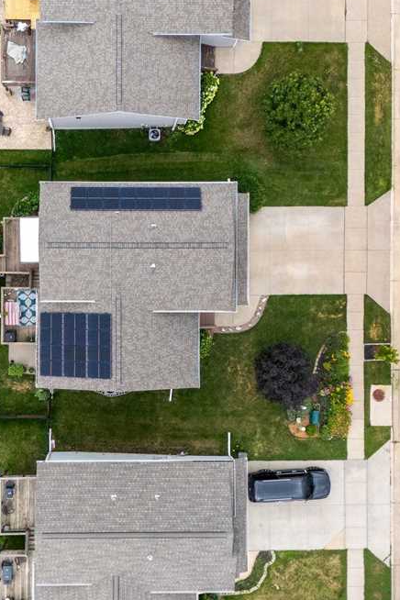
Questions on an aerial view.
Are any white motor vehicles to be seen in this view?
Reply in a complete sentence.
No, I can see no white motor vehicle in this picture.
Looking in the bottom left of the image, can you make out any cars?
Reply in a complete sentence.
No, in the bottom left of the image there is no car.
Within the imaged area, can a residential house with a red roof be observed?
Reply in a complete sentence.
No, there's no residential house with a red roof here.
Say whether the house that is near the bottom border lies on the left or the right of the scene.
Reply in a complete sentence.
You can find the house that is near the bottom border on the left side of the picture.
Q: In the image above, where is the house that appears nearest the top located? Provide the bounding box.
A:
[36,0,248,151]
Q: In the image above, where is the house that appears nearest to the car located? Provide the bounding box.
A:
[33,429,245,600]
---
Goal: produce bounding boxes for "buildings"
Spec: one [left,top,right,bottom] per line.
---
[33,429,245,600]
[37,177,249,402]
[36,0,248,151]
